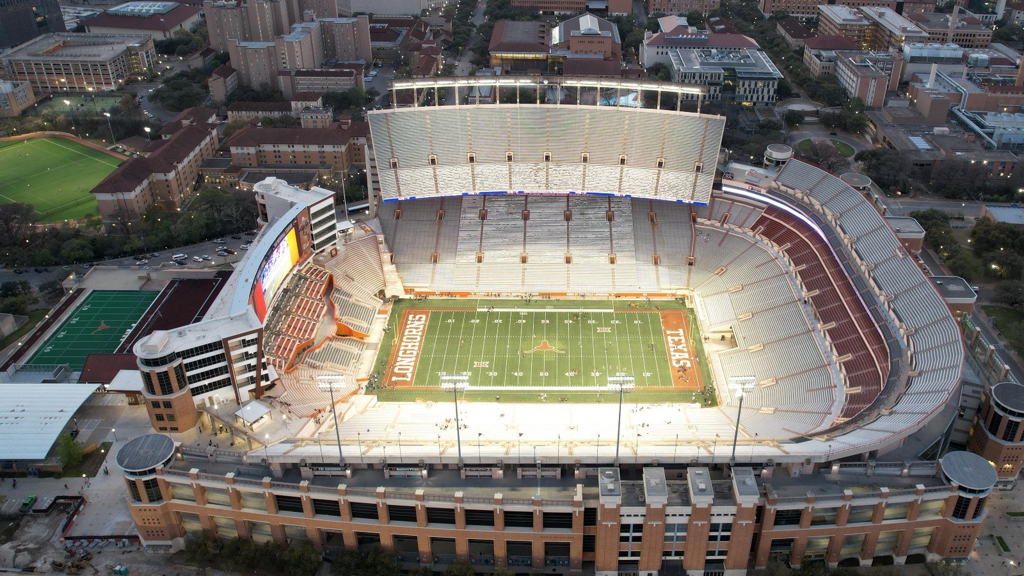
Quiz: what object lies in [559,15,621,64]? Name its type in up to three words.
building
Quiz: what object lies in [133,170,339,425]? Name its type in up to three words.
building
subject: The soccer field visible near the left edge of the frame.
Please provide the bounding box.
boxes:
[0,134,122,222]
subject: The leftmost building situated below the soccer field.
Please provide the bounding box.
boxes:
[0,386,103,479]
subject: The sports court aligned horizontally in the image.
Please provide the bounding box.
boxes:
[31,95,123,113]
